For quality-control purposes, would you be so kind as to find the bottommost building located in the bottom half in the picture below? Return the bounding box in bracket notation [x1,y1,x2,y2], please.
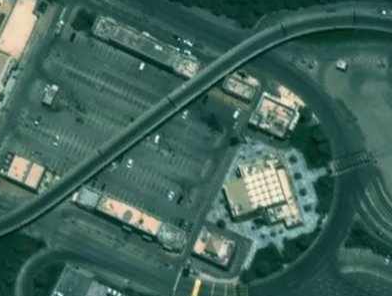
[192,227,237,266]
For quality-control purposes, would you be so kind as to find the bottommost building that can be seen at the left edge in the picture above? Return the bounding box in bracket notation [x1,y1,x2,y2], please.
[0,153,49,191]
